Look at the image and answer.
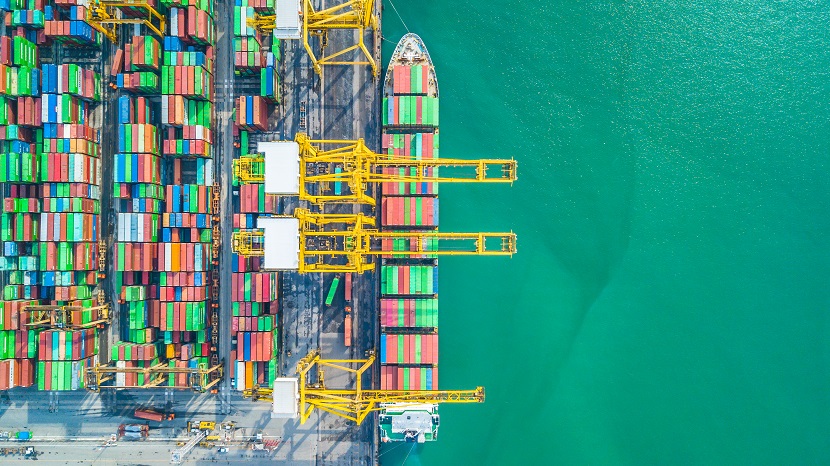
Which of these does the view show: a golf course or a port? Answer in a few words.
port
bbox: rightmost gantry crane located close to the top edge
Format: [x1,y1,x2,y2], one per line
[239,0,386,86]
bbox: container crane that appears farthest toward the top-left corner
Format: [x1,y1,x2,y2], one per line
[89,1,172,41]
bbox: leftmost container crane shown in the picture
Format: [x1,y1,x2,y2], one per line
[19,297,110,328]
